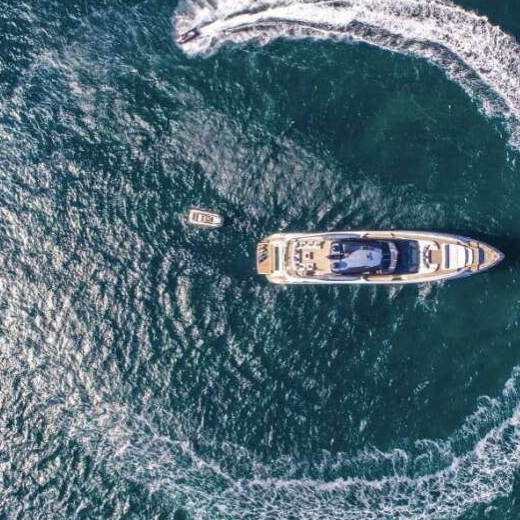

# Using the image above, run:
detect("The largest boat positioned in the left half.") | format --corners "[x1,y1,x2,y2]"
[189,210,222,226]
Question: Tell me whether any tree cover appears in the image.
No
